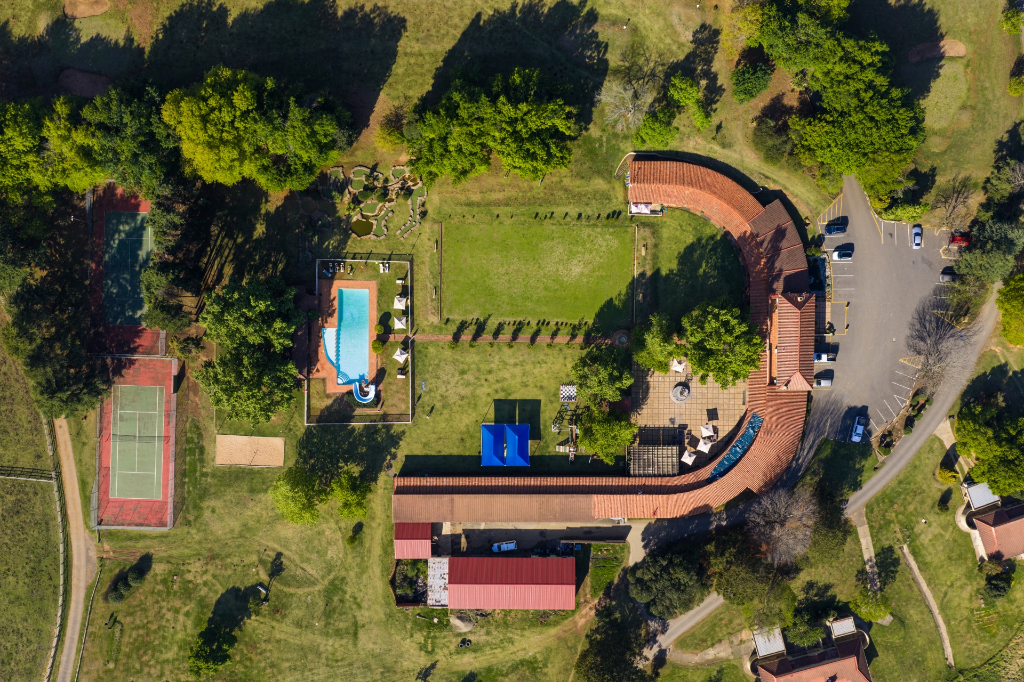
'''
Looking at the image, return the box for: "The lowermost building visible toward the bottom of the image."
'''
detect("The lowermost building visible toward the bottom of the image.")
[738,605,870,682]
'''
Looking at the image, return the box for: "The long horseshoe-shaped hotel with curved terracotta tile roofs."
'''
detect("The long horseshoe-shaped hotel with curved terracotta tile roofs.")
[393,161,816,522]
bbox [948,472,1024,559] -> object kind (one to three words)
house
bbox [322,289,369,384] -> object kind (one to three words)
swimming pool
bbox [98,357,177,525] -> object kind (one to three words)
tennis court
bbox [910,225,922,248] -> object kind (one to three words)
vehicle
